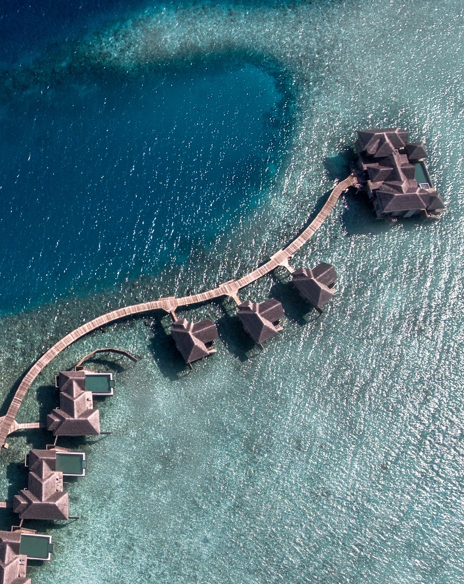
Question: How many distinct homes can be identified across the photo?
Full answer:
My tally gives 4 homes in this view.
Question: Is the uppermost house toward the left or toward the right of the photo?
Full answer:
The uppermost house appears in the right half of the scene.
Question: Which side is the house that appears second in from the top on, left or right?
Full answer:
The house that appears second in from the top sits on the right side.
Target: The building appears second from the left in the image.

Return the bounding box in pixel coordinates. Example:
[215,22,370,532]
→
[229,298,285,358]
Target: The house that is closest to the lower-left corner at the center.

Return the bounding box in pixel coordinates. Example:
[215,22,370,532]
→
[165,318,219,377]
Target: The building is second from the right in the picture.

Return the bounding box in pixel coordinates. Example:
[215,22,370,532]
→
[281,263,340,321]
